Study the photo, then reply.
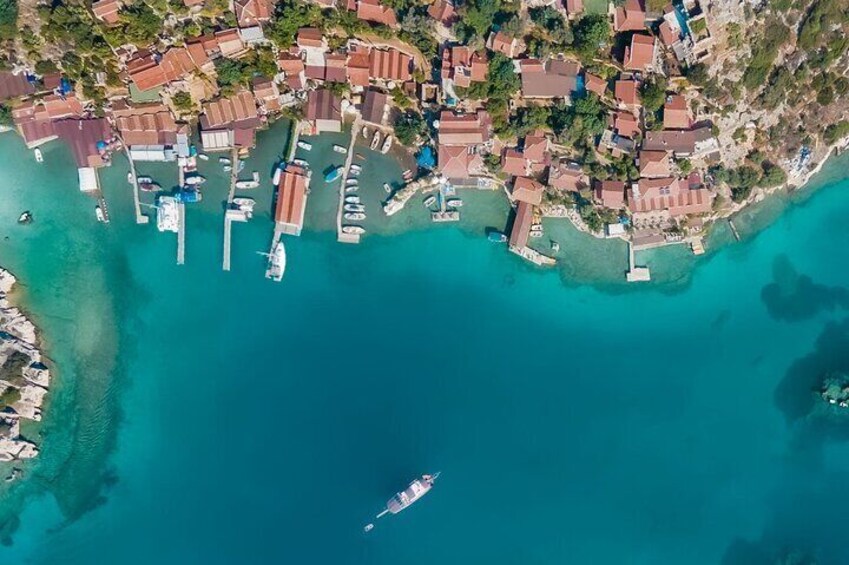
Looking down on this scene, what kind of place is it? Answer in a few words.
residential area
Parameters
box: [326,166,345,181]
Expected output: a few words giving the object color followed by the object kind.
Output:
blue boat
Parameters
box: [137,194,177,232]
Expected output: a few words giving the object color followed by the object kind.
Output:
white boat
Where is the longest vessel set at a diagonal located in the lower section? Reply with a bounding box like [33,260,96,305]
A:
[378,475,441,519]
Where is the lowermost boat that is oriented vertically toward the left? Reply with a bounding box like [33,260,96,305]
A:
[263,240,284,284]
